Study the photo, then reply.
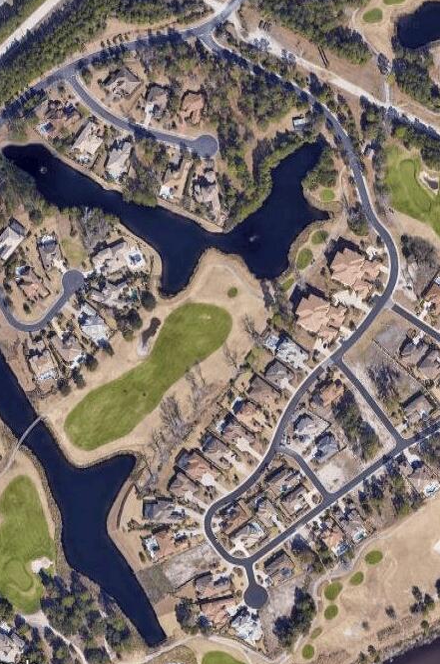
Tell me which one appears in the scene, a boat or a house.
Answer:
house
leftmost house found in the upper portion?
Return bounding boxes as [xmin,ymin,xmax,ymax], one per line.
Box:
[0,222,26,257]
